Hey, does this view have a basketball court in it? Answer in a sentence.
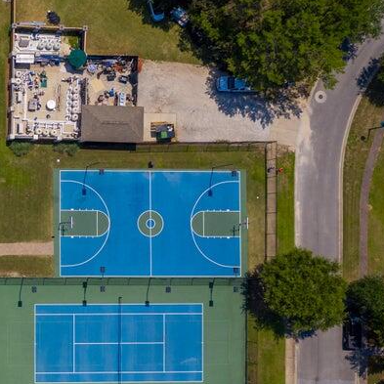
Yes, a basketball court is visible in the scene.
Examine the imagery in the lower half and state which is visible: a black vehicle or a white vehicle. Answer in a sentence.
What appears in the lower half is a black vehicle.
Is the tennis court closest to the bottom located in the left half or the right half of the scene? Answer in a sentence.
The tennis court closest to the bottom appears in the left half of the scene.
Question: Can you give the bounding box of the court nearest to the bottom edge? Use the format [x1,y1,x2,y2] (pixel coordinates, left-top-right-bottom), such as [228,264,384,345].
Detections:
[8,299,230,384]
